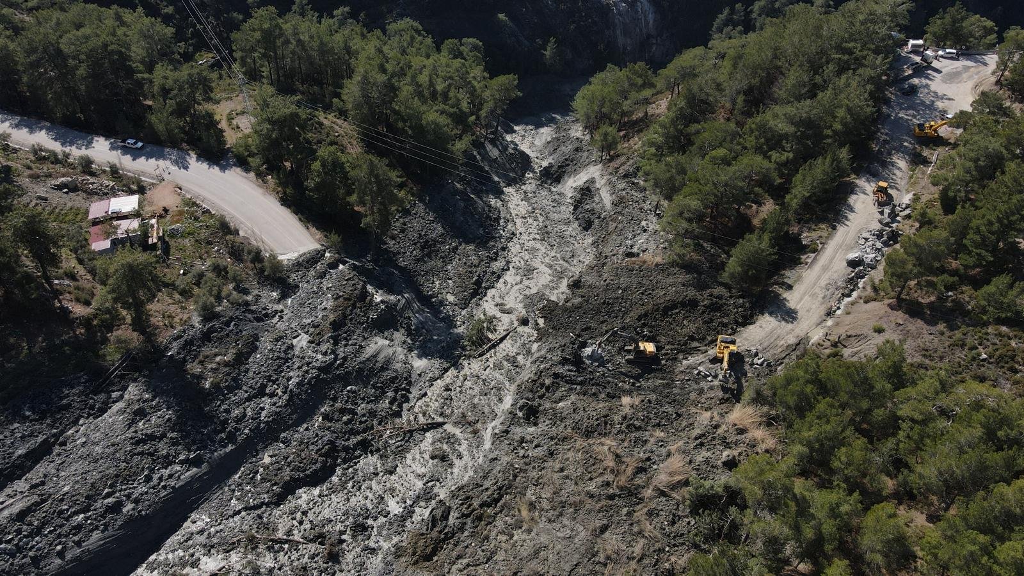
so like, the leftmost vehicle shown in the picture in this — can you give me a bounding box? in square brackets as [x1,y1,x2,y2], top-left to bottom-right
[118,136,145,148]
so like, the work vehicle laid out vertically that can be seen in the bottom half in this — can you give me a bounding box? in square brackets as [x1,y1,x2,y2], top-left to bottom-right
[717,330,740,378]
